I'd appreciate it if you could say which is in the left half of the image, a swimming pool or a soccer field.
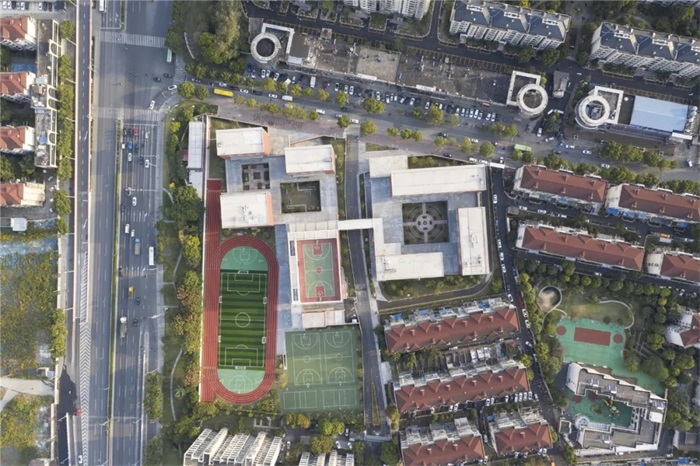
soccer field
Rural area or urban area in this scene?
urban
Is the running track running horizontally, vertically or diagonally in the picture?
vertically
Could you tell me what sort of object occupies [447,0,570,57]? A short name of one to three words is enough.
building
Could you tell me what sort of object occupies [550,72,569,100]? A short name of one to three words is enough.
shed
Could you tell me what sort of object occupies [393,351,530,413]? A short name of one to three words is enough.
house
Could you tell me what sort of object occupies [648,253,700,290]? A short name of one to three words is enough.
house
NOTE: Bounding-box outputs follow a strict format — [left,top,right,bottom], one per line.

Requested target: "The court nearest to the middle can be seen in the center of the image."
[297,238,340,303]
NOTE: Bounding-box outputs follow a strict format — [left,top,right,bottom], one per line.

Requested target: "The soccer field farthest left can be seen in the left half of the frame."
[217,271,267,367]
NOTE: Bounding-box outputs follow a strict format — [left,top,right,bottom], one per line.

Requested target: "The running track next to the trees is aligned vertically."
[202,180,278,403]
